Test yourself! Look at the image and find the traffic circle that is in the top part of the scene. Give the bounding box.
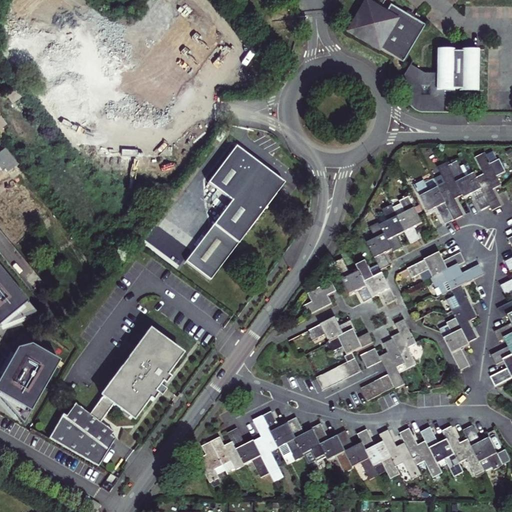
[256,18,440,212]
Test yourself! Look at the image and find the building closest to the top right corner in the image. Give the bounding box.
[438,46,480,92]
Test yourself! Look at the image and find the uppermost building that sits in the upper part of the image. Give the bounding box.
[346,0,426,63]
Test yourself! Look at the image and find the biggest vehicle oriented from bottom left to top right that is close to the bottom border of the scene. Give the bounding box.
[102,471,118,488]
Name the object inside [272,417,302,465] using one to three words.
house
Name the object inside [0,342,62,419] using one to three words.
building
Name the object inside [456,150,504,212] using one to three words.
house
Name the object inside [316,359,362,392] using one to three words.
building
